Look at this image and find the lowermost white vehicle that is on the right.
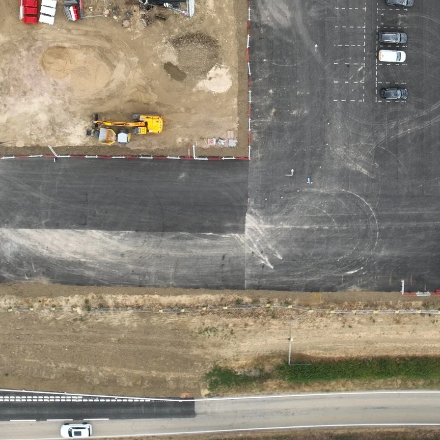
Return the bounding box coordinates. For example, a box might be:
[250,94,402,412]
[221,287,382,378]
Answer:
[378,50,405,64]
